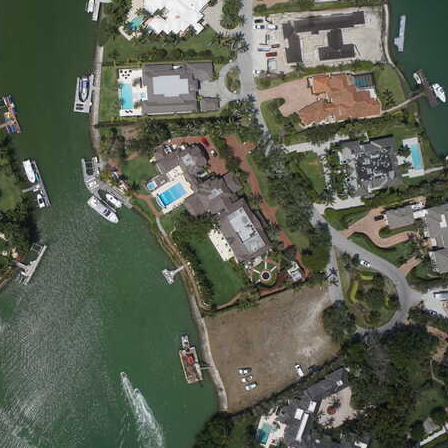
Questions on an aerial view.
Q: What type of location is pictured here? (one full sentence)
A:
The area seen from above is a residential area.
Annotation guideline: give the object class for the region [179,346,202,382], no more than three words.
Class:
ship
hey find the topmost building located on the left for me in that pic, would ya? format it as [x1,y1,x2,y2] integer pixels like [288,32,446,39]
[139,0,209,38]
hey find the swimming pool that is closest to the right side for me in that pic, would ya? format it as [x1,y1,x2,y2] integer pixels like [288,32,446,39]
[410,143,424,171]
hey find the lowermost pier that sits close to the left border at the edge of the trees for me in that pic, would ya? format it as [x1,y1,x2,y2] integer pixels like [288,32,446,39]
[13,243,47,286]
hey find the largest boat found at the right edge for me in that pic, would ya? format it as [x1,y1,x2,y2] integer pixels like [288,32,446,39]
[430,82,446,103]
